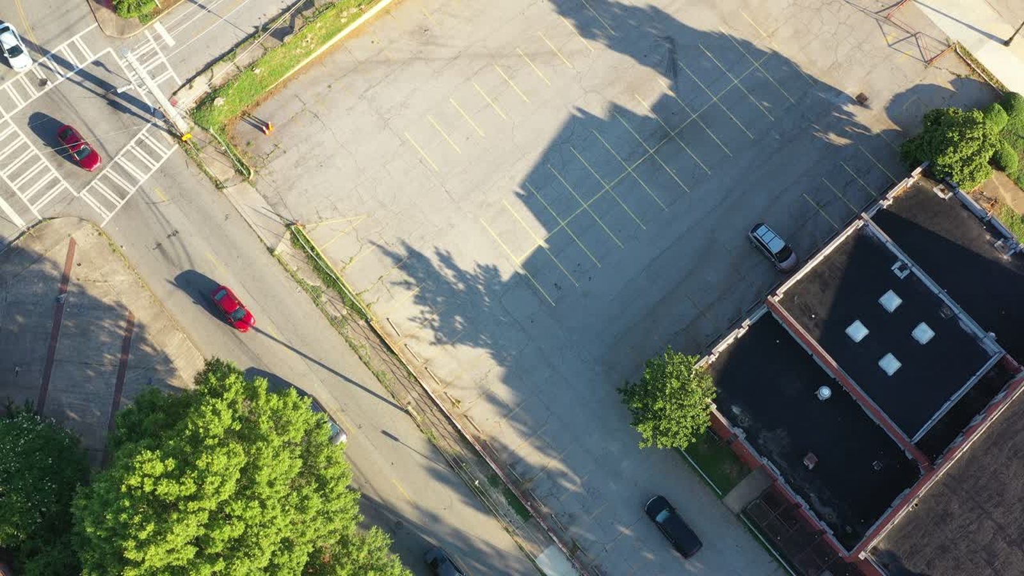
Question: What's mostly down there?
paved ground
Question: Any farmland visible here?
No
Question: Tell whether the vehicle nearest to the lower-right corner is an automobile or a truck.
automobile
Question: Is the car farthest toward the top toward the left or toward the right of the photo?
left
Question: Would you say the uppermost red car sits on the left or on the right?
left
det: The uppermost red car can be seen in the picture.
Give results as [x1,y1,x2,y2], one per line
[53,121,99,169]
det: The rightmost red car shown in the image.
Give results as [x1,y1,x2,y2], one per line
[208,281,255,333]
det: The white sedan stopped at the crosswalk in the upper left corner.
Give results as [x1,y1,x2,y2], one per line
[0,17,28,67]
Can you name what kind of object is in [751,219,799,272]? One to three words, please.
car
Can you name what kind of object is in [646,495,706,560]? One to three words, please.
car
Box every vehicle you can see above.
[646,495,706,560]
[208,281,255,333]
[296,389,347,437]
[0,17,28,67]
[53,121,99,169]
[751,219,799,272]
